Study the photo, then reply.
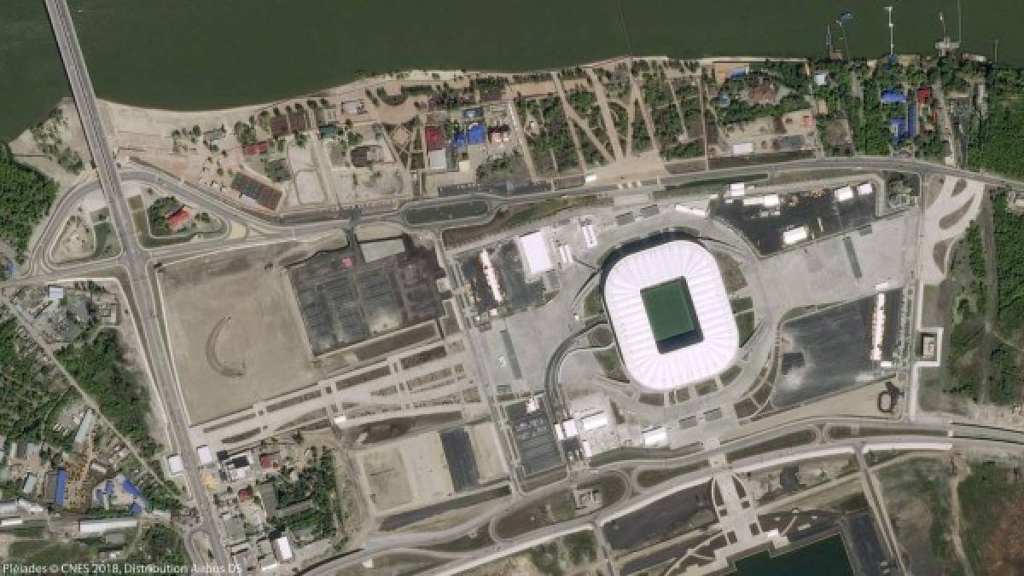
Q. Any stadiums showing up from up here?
Yes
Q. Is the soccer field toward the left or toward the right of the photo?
right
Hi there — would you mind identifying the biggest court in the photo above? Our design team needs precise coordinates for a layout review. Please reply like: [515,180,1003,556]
[296,171,326,204]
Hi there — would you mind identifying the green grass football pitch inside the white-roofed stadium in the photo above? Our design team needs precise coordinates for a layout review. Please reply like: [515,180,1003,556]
[645,282,699,349]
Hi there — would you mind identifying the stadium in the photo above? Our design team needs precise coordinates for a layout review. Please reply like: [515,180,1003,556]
[604,240,739,390]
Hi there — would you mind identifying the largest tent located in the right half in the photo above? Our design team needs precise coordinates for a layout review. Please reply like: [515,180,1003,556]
[782,225,809,245]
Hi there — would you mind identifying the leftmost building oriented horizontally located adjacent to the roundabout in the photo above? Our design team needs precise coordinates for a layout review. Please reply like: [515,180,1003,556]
[360,238,405,262]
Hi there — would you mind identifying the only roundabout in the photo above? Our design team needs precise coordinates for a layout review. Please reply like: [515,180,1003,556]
[402,193,496,230]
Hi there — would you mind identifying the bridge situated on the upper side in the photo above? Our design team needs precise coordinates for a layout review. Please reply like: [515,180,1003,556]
[45,0,138,245]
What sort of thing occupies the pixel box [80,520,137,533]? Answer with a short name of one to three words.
building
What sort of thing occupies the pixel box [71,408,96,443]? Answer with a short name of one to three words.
building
